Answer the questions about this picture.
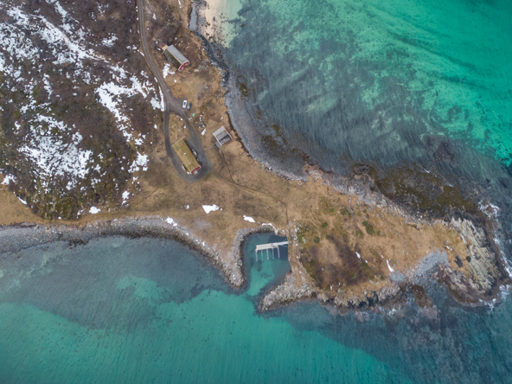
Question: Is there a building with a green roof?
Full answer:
No, the scene contains no building with a green roof.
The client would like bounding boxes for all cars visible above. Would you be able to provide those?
[187,102,193,110]
[182,100,188,108]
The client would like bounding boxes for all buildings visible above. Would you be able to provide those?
[165,46,189,70]
[214,127,231,145]
[173,139,202,173]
